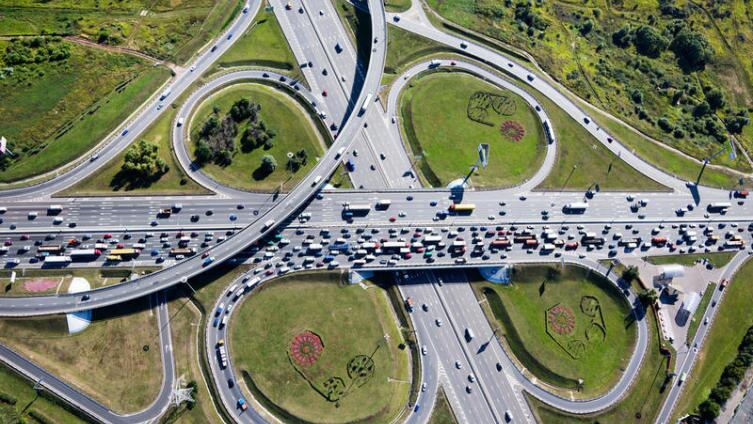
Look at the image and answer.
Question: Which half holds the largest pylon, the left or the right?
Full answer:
The largest pylon is on the left side of the image.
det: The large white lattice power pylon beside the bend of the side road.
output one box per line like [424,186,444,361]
[176,373,199,411]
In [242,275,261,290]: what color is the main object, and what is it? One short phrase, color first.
white vehicle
